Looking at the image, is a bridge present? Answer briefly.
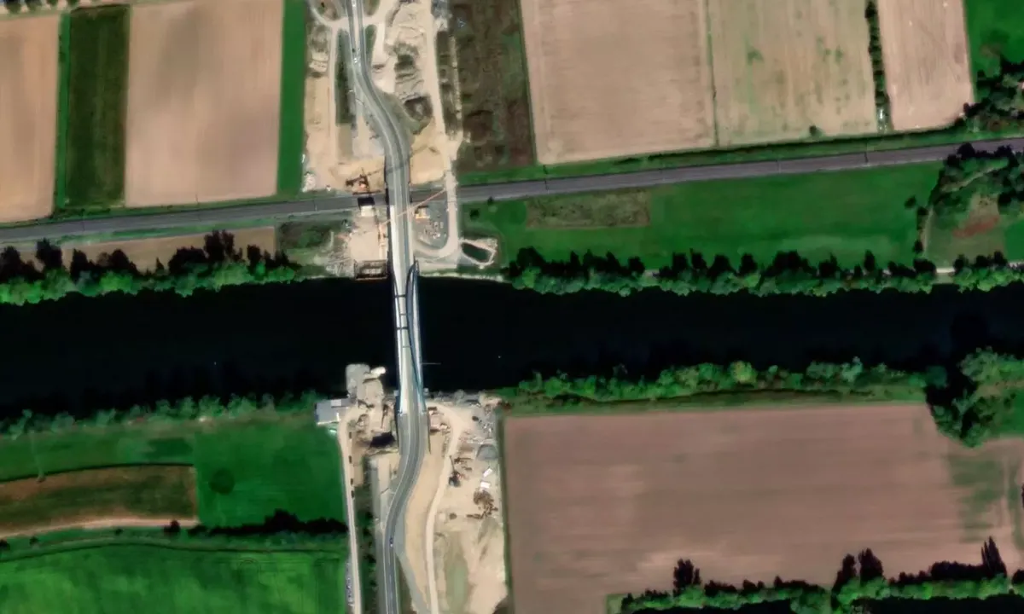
Yes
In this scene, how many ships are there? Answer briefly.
0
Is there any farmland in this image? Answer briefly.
Yes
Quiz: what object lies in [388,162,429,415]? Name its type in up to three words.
bridge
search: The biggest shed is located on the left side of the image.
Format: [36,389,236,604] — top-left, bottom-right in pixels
[315,403,345,428]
